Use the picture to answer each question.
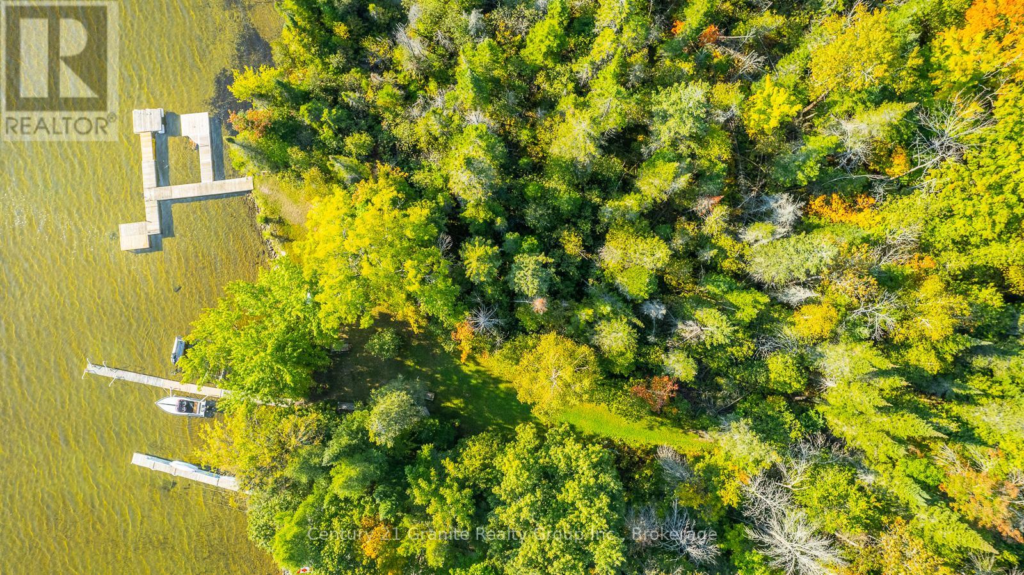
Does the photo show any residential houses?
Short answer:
No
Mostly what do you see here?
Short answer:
trees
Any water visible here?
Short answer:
Yes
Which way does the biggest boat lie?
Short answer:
horizontally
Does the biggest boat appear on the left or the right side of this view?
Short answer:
left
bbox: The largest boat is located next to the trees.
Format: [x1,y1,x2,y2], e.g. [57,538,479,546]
[153,398,214,418]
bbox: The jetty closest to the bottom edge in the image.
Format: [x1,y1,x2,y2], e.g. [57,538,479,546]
[132,453,249,493]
